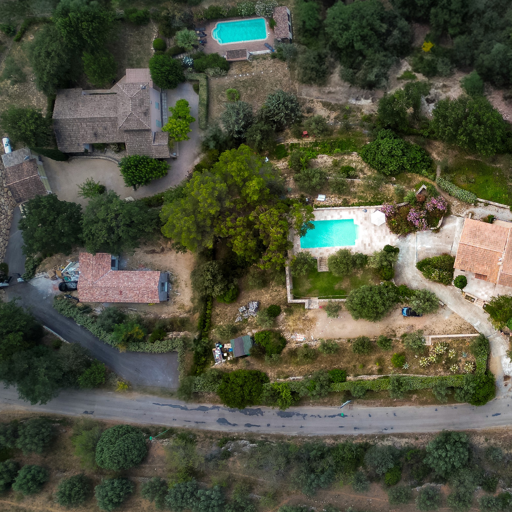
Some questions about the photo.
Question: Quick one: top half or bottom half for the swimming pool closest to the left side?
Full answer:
The swimming pool closest to the left side sits in the top half of the picture.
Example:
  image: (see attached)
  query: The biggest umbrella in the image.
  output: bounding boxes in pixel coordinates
[372,210,386,226]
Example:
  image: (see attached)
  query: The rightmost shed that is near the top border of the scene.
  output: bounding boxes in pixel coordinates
[273,5,296,43]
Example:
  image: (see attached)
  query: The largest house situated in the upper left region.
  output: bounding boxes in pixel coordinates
[52,68,172,160]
